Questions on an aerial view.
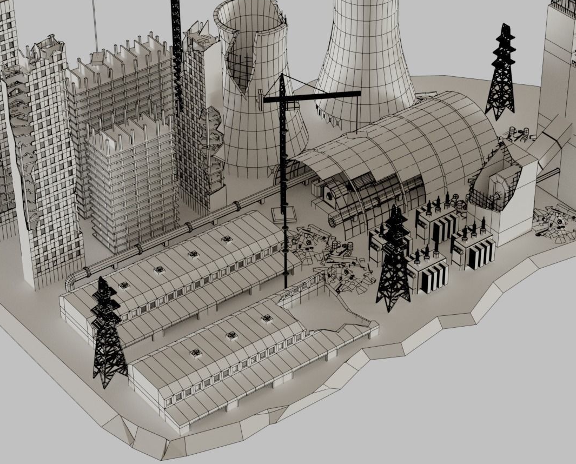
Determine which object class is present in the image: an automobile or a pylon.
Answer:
pylon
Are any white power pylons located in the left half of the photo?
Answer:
No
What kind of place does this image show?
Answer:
industrial area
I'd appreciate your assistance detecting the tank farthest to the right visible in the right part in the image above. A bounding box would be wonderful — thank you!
[453,226,493,269]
